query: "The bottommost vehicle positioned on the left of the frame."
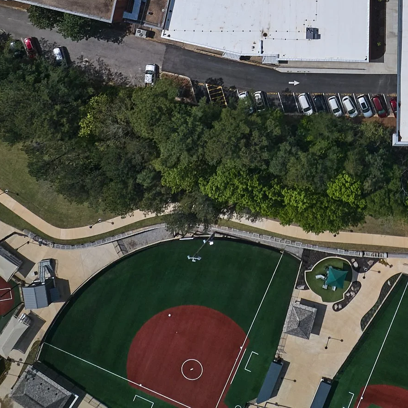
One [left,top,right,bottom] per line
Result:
[144,62,156,85]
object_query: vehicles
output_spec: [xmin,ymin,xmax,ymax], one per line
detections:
[356,94,373,118]
[236,89,253,107]
[10,39,28,60]
[372,94,388,118]
[144,62,156,85]
[251,91,264,107]
[54,45,69,66]
[297,91,312,112]
[24,36,40,60]
[328,94,344,116]
[342,94,359,118]
[387,97,398,119]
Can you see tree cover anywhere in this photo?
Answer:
Yes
